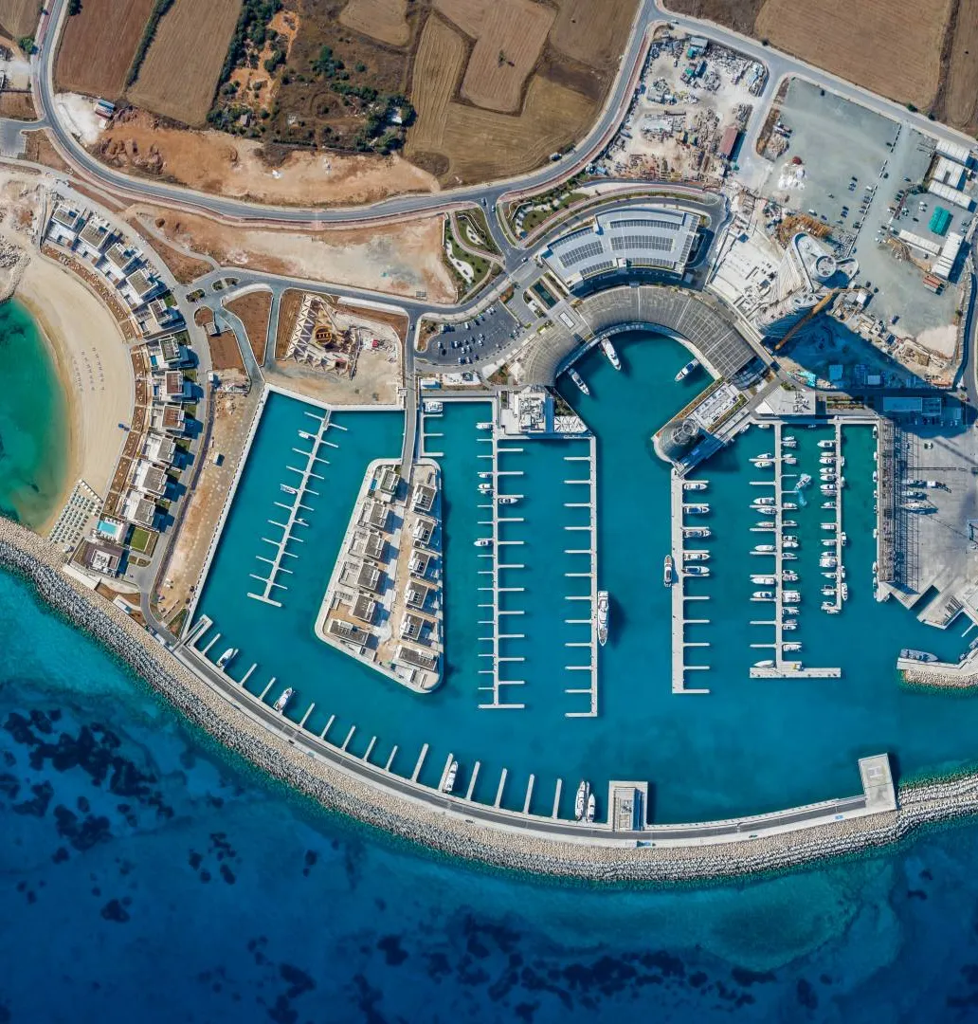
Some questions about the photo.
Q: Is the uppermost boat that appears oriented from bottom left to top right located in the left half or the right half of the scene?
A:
right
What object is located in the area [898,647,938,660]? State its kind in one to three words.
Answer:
boat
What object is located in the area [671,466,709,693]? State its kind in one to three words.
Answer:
pier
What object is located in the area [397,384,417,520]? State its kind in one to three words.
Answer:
bridge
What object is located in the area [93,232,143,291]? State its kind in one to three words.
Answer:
house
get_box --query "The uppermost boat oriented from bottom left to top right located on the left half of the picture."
[217,649,234,668]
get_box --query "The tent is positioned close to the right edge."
[928,206,955,236]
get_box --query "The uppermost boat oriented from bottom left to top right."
[676,358,701,380]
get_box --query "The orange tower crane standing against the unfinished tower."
[775,288,888,350]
